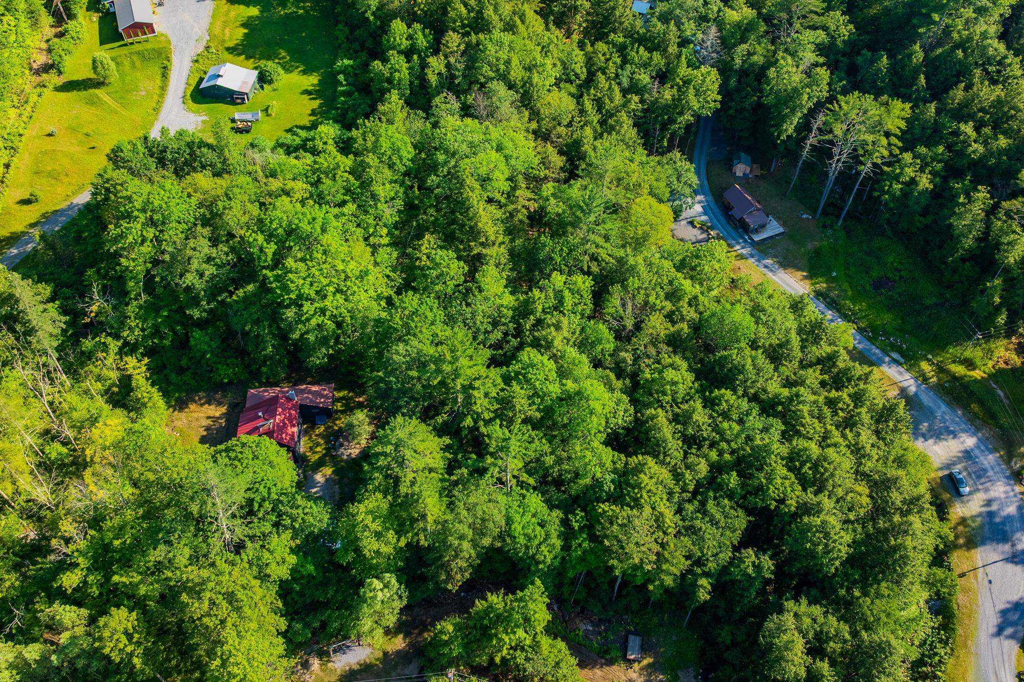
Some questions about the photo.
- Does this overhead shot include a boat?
No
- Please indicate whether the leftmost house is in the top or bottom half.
top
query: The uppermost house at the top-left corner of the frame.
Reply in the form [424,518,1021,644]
[96,0,157,39]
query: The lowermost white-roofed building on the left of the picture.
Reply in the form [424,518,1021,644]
[199,61,264,102]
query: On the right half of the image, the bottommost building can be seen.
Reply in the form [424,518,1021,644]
[713,184,768,235]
